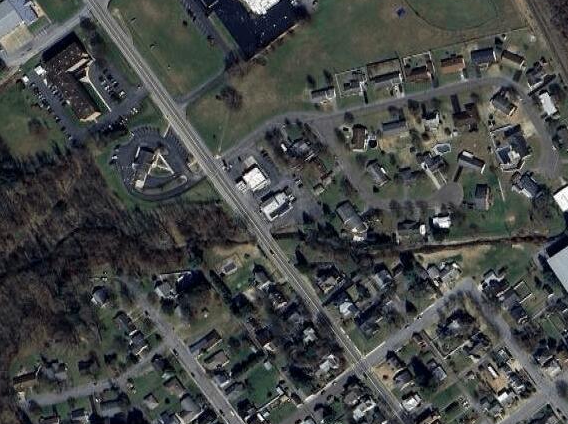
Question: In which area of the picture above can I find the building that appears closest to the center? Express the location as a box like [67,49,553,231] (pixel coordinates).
[262,191,294,221]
